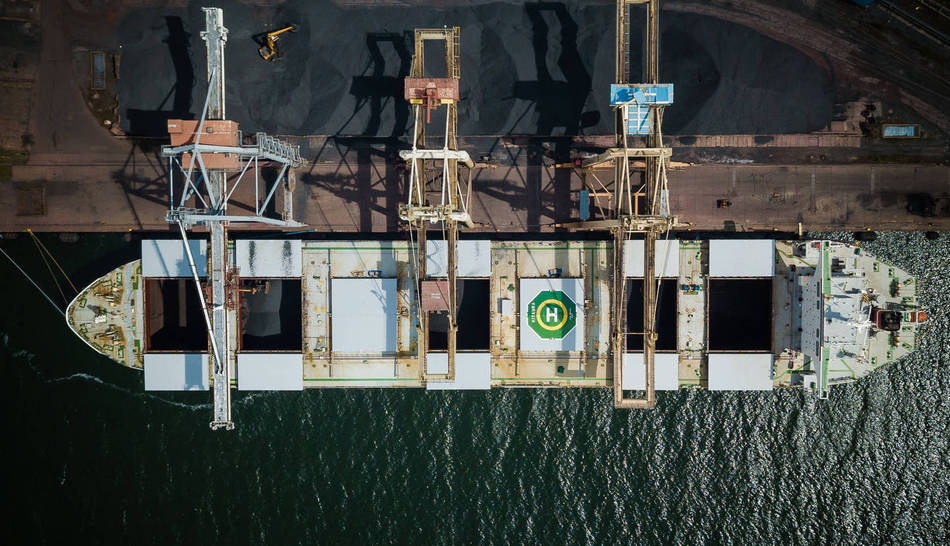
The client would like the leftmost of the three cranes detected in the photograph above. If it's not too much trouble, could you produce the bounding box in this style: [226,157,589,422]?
[157,7,317,431]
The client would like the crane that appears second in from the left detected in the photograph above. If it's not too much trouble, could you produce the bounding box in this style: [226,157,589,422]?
[386,28,497,385]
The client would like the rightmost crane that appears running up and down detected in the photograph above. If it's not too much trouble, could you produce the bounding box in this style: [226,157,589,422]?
[547,0,702,408]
